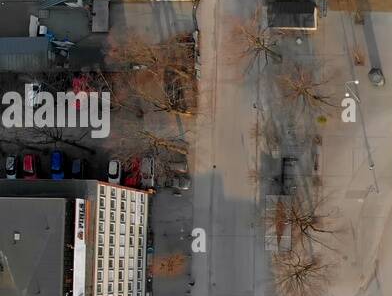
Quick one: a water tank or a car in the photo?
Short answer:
car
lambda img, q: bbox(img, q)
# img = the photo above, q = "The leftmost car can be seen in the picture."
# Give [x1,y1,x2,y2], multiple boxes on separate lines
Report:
[1,152,17,181]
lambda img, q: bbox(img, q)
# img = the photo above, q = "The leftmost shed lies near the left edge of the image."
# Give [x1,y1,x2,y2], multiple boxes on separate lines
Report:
[0,34,46,71]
